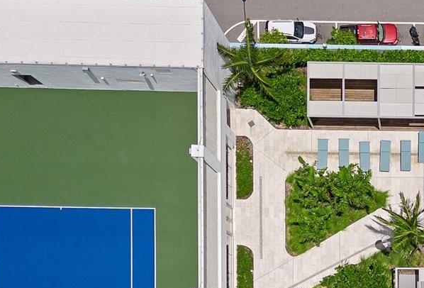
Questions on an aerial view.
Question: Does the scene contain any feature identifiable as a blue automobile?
No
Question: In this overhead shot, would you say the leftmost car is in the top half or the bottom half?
top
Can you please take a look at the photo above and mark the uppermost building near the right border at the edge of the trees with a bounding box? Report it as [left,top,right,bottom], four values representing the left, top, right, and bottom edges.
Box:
[307,62,424,132]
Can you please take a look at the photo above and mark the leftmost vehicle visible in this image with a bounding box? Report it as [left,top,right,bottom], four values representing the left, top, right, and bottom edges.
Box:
[269,18,319,44]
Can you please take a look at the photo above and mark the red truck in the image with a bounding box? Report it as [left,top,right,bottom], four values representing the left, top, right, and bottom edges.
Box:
[340,19,399,44]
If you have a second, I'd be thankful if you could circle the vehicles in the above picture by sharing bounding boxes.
[410,24,418,44]
[269,18,319,44]
[340,19,399,44]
